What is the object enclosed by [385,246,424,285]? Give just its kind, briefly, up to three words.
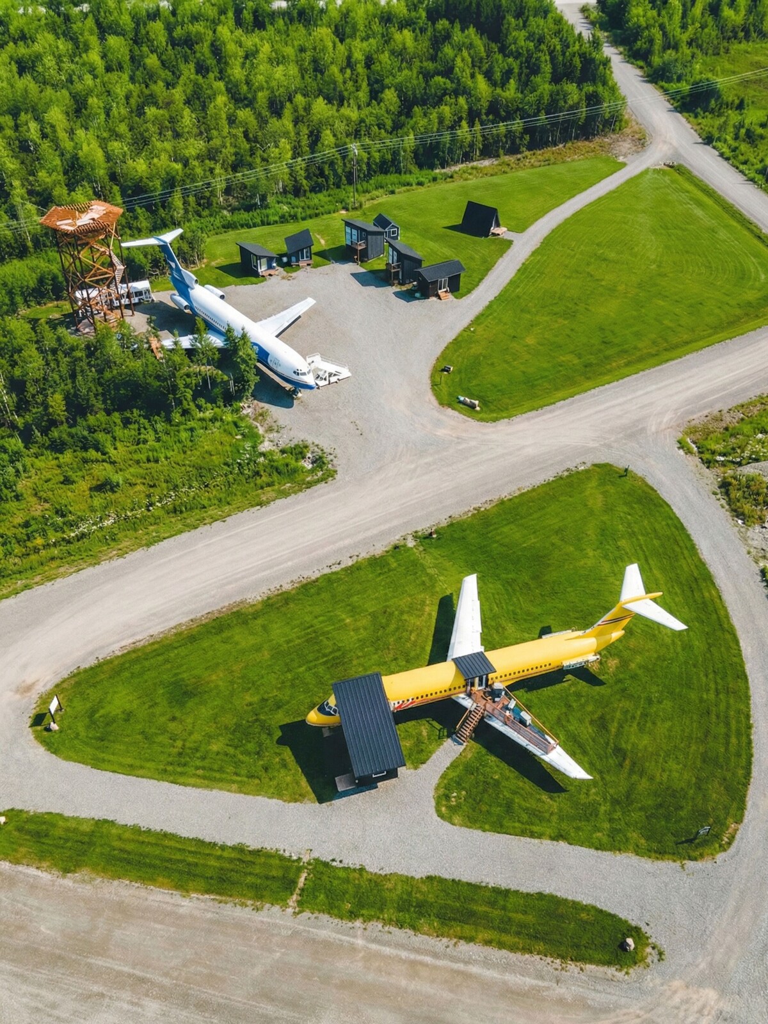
building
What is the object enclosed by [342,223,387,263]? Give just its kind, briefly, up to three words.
building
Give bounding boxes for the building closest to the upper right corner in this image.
[458,195,514,239]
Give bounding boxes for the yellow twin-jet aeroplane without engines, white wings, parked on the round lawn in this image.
[380,563,689,780]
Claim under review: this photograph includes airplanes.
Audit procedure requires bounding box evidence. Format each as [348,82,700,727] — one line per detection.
[121,228,316,394]
[380,563,689,780]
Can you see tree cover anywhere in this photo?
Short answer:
Yes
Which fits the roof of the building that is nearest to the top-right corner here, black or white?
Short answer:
black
